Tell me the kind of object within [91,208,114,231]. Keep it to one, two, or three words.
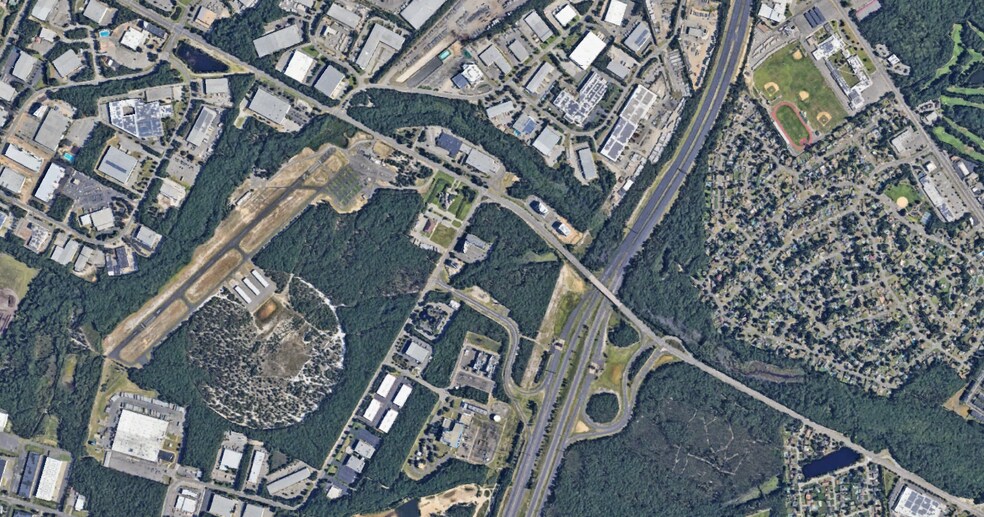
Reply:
building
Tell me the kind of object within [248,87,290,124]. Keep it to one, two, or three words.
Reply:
building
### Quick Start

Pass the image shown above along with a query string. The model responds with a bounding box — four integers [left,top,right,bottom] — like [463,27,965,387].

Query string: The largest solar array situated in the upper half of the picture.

[438,134,459,155]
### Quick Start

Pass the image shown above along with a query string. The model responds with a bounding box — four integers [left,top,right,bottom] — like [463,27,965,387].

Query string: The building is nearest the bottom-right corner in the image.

[890,485,948,517]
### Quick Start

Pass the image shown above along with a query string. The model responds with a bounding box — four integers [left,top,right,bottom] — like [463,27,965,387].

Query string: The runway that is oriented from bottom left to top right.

[108,145,335,359]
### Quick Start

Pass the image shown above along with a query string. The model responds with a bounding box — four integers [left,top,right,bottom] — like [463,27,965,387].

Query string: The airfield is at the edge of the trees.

[108,145,395,365]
